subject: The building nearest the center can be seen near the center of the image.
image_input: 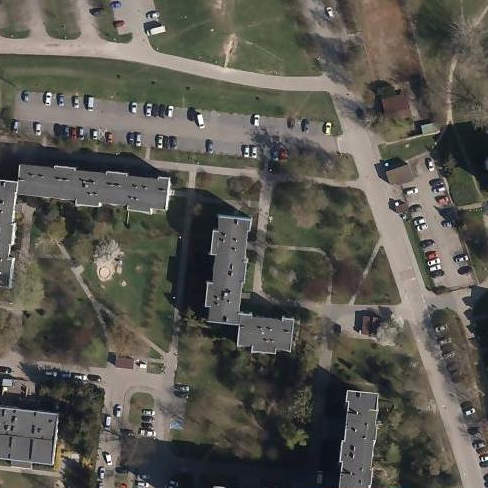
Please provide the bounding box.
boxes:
[206,216,295,355]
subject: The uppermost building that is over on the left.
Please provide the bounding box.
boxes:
[18,165,172,216]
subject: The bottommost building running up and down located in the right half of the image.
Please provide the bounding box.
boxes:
[339,391,379,488]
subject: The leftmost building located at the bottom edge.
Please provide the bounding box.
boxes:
[0,407,60,469]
